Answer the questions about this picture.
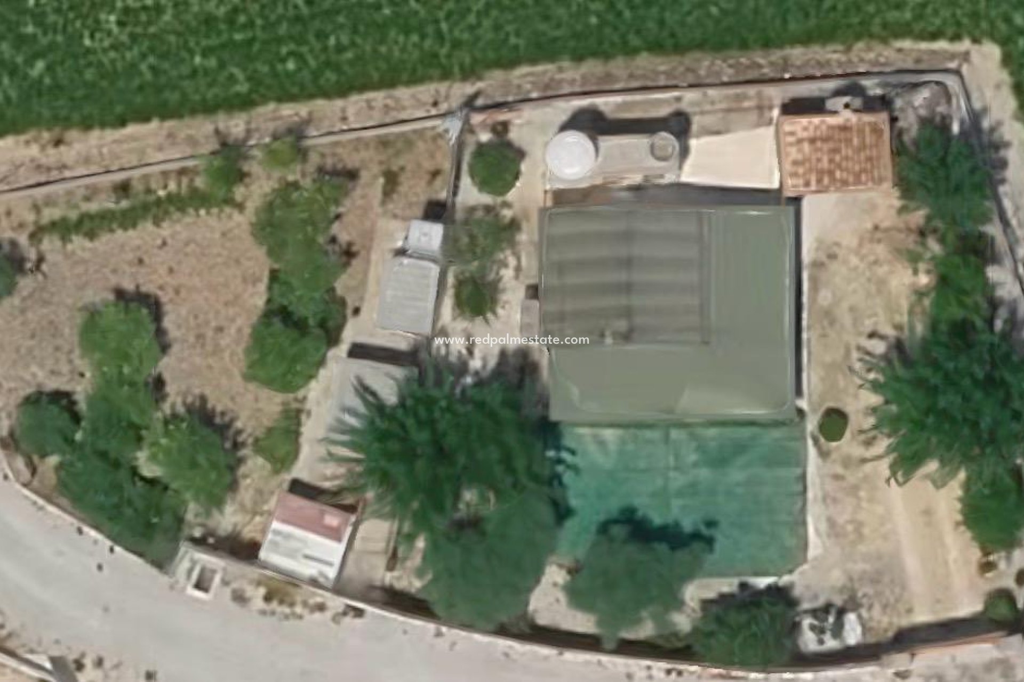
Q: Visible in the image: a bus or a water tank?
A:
water tank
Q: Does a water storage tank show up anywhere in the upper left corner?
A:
No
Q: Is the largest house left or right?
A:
right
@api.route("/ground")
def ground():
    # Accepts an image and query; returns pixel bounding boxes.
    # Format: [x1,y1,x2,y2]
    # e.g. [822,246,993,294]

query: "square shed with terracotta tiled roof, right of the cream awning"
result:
[777,111,893,197]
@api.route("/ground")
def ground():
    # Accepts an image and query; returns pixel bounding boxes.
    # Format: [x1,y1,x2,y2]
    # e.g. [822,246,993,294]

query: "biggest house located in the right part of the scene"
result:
[540,207,796,423]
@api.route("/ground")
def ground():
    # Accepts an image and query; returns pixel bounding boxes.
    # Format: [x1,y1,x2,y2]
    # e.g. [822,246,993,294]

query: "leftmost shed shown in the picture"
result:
[259,490,359,589]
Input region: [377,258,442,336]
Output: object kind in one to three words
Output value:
shed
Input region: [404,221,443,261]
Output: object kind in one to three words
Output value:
shed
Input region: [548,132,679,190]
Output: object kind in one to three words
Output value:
water tank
